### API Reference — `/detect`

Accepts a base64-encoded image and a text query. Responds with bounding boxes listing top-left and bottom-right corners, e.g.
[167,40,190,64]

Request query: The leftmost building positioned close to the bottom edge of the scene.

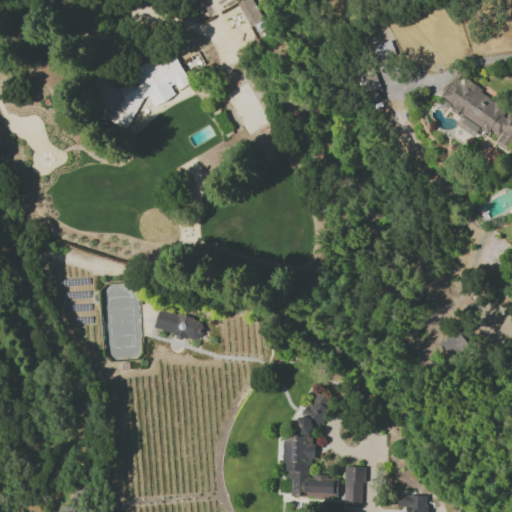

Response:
[284,394,340,499]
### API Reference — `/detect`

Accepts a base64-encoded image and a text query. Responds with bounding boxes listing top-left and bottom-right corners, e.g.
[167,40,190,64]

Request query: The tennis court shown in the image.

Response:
[106,284,143,360]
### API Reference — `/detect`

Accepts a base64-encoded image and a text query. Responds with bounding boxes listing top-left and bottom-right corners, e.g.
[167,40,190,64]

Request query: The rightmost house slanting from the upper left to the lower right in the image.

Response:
[437,74,512,151]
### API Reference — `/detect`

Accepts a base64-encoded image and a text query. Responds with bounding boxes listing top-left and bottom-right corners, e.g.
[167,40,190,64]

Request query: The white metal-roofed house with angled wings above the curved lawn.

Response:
[112,59,191,126]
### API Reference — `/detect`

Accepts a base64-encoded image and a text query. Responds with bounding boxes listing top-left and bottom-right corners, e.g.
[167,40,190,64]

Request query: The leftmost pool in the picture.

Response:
[190,126,216,147]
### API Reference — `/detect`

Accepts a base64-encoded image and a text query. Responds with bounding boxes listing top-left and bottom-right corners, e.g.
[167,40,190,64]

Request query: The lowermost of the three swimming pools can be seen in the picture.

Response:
[490,190,512,217]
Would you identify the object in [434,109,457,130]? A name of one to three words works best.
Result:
swimming pool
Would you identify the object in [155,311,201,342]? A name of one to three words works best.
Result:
house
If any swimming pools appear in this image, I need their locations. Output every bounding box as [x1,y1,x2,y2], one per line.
[434,109,457,130]
[490,190,512,217]
[190,126,216,147]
